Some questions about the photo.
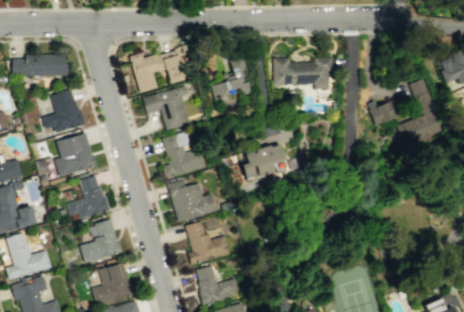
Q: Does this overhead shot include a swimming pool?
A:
Yes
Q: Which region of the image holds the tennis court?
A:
bottom right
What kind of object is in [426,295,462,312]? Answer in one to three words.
house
